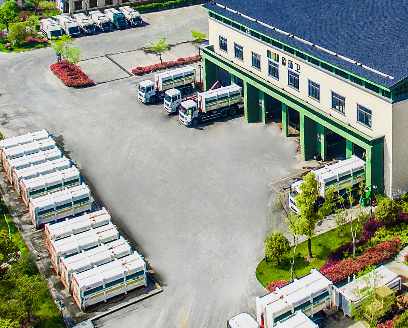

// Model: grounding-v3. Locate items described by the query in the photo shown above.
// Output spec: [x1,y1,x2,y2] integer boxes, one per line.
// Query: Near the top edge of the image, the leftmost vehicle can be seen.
[34,16,57,37]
